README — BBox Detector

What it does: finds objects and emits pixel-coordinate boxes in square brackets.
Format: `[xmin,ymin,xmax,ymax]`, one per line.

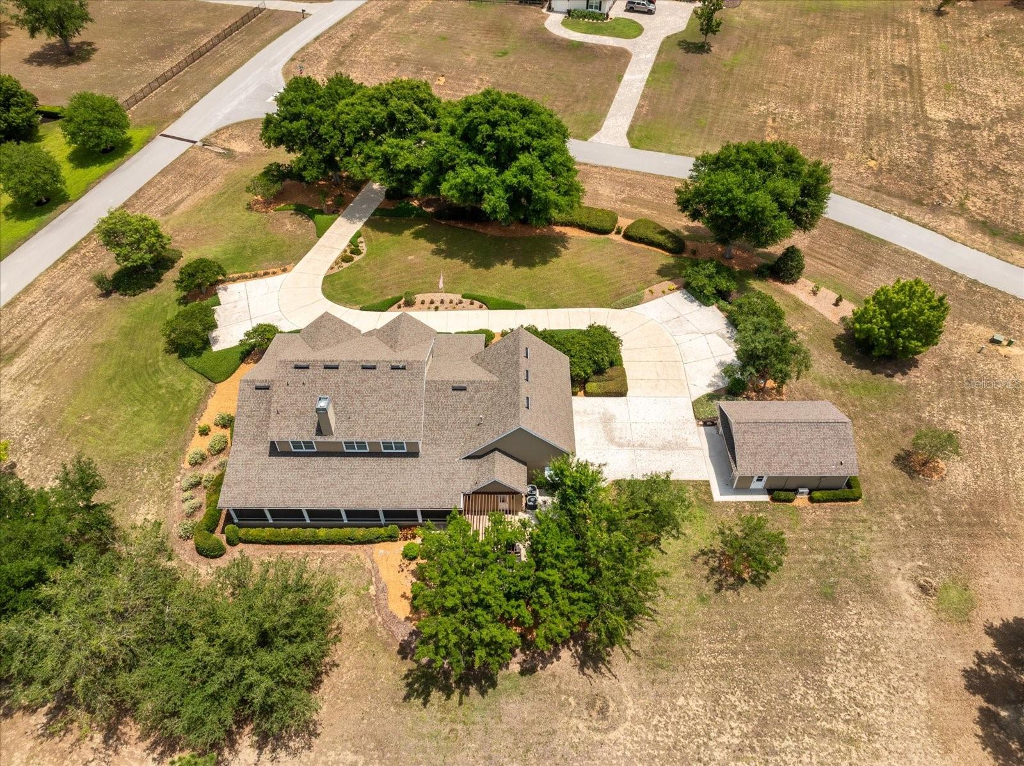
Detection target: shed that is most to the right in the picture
[712,399,858,491]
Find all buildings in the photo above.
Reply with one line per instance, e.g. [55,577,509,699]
[549,0,607,16]
[217,311,576,529]
[712,399,858,491]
